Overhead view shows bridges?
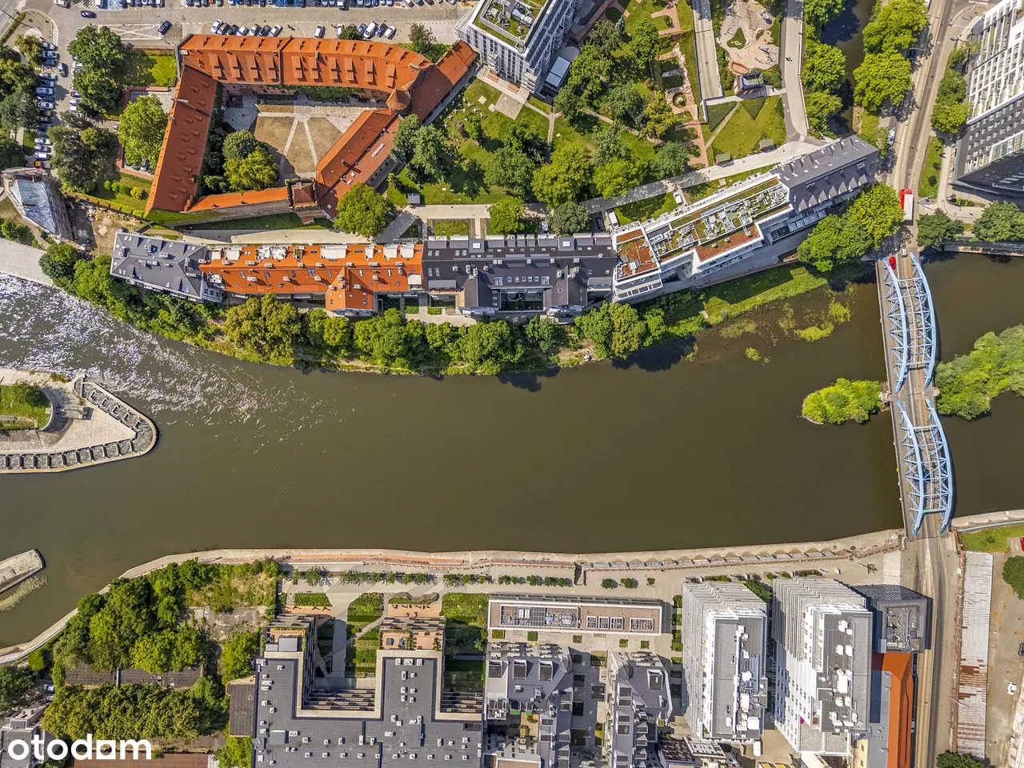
Yes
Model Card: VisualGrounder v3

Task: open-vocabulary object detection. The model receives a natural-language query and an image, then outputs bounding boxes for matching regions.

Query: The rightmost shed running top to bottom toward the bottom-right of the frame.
[951,550,993,766]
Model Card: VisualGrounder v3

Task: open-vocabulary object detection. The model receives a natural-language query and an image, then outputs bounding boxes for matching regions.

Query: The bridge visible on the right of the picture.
[870,246,958,547]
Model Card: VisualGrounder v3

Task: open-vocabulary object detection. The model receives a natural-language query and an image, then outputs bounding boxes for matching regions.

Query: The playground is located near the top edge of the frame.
[721,0,779,72]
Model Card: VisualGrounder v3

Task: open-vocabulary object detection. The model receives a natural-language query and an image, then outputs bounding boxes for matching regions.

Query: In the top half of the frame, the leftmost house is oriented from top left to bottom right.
[3,168,89,242]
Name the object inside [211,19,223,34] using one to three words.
vehicle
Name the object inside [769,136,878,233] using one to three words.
building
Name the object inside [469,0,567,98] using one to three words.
building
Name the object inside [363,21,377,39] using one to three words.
vehicle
